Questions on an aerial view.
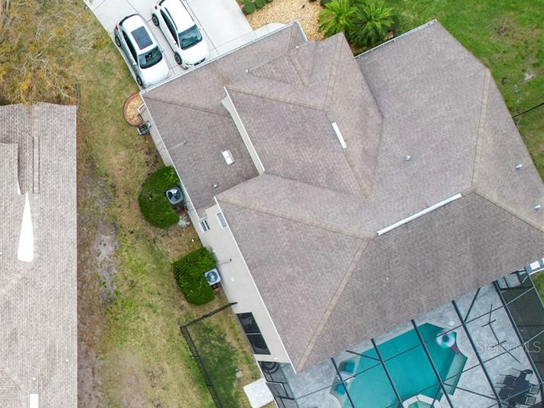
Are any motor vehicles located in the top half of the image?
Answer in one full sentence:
Yes, in the top half of the image there is a motor vehicle.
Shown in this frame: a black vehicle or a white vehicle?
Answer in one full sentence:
It is a white vehicle that can be seen here.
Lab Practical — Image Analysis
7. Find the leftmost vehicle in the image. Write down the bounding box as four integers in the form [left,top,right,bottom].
[115,11,173,91]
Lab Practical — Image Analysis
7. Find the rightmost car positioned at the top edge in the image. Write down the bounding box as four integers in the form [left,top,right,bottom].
[152,0,213,69]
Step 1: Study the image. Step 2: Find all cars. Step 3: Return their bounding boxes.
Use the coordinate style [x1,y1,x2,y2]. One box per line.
[152,0,213,69]
[115,11,173,91]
